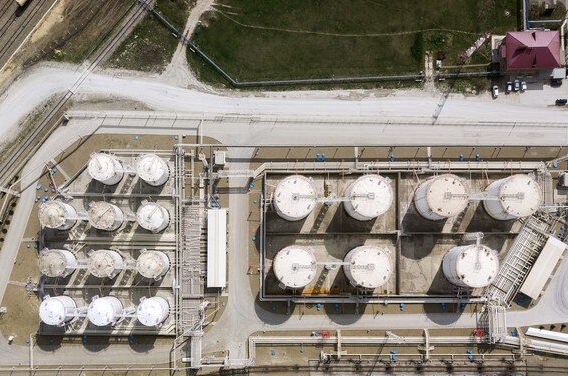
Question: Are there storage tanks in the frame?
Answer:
Yes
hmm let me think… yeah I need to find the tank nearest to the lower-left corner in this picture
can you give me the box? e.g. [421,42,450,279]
[38,294,83,328]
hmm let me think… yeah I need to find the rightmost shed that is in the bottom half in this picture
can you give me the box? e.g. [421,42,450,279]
[515,236,568,299]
